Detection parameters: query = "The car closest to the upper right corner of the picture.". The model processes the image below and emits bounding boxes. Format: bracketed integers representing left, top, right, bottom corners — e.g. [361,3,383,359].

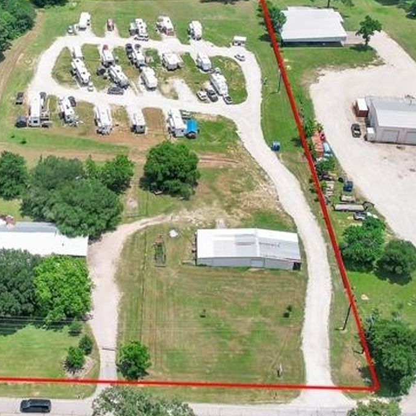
[350,123,364,138]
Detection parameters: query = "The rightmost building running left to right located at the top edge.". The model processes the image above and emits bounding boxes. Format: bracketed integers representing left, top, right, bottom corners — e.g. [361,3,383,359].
[270,9,350,47]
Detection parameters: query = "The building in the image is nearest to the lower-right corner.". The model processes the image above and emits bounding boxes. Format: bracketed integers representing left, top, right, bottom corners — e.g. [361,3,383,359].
[194,227,305,270]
